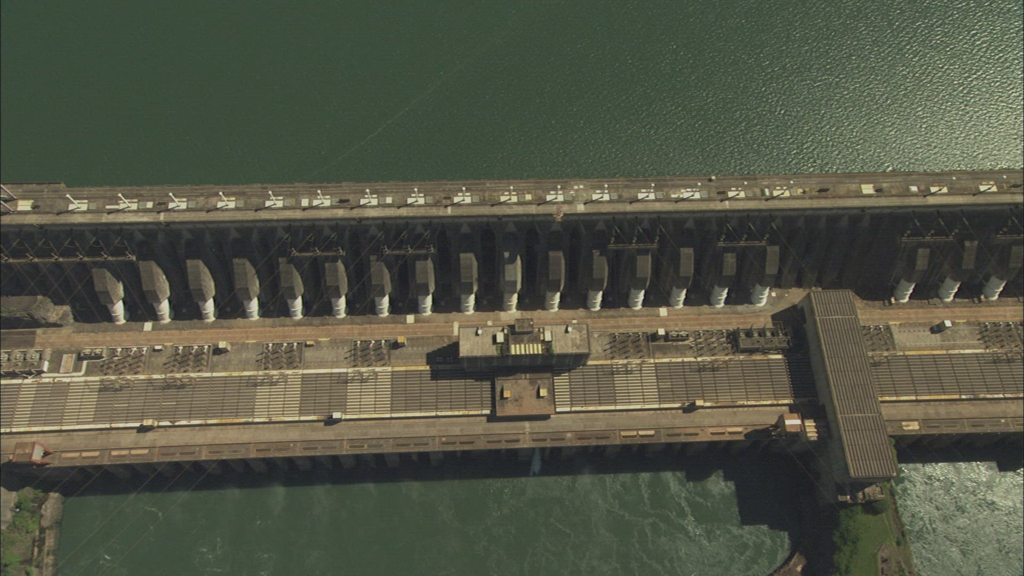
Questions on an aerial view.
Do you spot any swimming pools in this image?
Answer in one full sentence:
No, I can't see a single swimming pool in this photo.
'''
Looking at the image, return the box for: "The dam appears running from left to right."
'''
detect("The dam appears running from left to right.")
[0,169,1024,323]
